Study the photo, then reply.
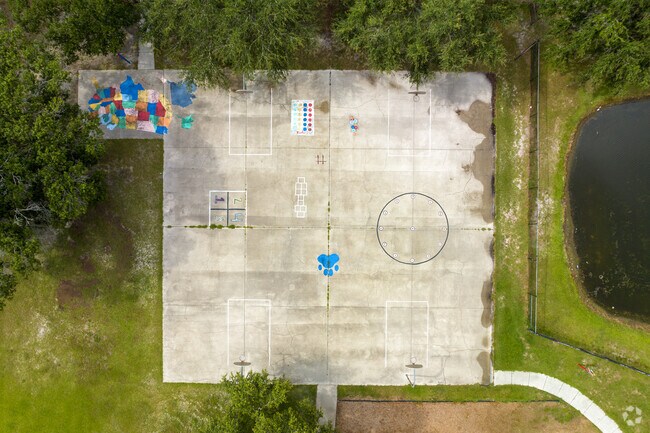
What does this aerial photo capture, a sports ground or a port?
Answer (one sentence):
This image shows a sports ground.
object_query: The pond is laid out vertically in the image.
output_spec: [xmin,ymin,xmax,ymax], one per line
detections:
[565,102,650,325]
